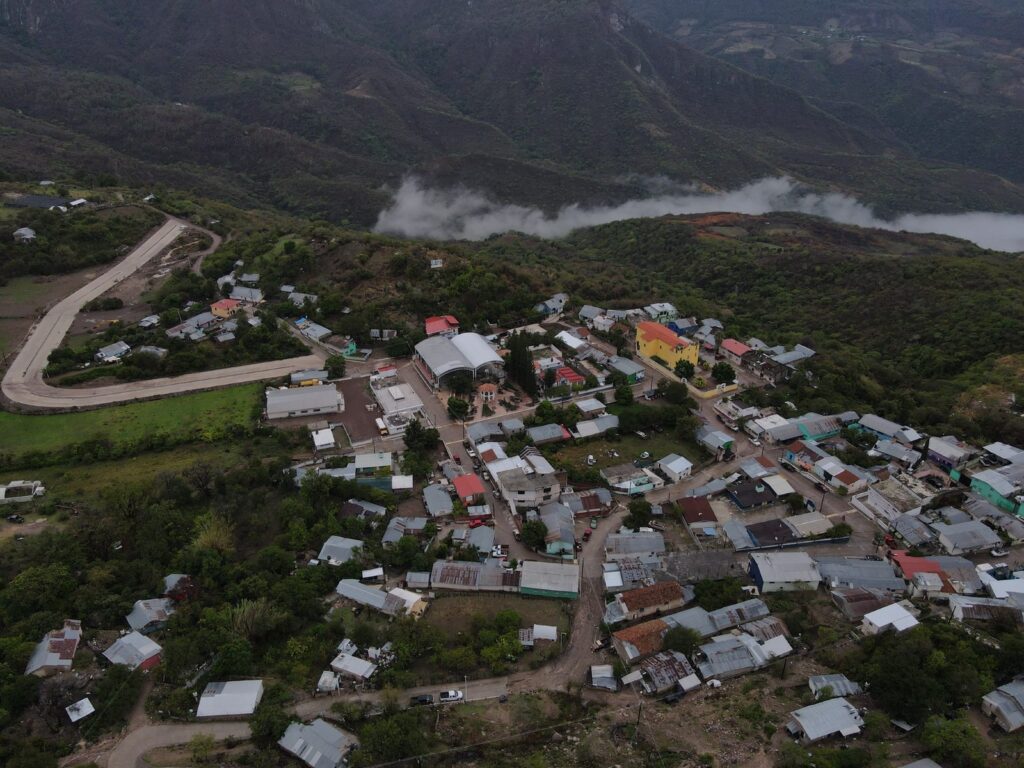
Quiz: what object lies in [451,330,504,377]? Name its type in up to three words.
building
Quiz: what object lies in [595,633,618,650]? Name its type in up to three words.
vehicle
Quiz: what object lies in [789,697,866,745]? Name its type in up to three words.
house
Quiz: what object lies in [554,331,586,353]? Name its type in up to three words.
shed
